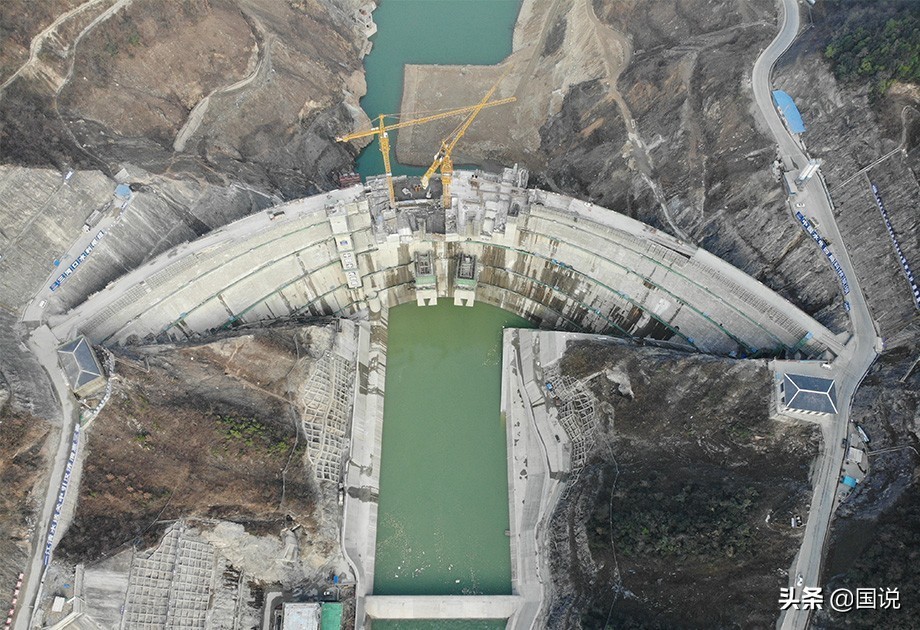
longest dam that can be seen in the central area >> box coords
[42,165,837,368]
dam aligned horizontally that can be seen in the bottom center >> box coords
[368,596,525,618]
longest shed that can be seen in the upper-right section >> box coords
[769,90,806,138]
